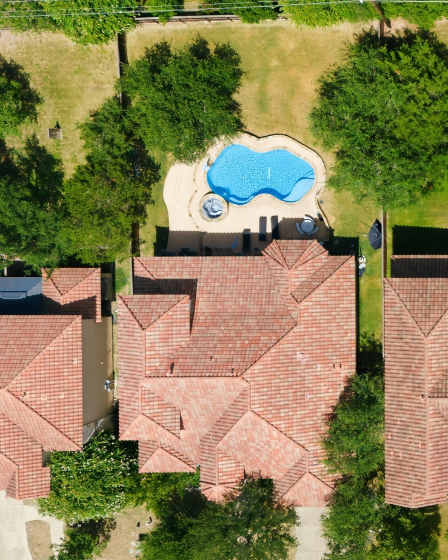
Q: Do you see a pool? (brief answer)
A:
Yes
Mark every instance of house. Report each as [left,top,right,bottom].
[0,267,114,500]
[383,254,448,508]
[116,239,357,508]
